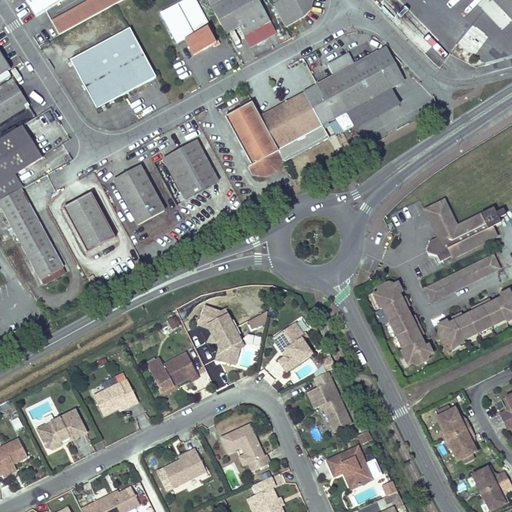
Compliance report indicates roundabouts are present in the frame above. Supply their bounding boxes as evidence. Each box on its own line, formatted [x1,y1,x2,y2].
[291,216,341,266]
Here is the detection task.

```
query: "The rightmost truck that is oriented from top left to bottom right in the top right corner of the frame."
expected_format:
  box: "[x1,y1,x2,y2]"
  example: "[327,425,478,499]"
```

[424,32,448,58]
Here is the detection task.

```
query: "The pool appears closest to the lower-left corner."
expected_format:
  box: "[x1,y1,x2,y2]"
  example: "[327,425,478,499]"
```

[28,400,53,420]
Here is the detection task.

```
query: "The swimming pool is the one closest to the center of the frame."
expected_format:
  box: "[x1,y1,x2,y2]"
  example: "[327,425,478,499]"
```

[240,350,256,368]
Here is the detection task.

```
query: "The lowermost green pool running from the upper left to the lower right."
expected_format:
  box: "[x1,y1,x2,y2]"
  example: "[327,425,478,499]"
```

[225,468,242,490]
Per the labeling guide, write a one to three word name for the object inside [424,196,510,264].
building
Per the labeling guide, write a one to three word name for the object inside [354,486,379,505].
swimming pool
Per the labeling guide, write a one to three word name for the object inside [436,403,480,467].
house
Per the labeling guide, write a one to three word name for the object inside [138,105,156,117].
vehicle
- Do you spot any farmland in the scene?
No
